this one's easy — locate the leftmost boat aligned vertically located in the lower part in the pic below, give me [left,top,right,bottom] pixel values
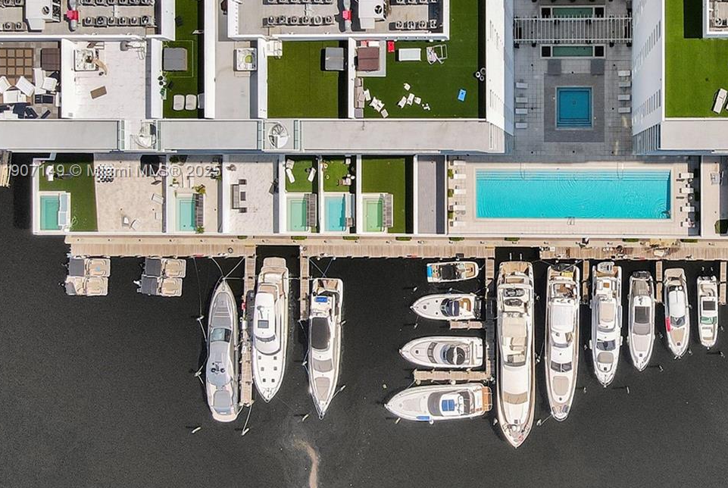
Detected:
[206,280,243,420]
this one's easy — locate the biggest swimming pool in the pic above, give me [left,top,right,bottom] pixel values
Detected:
[471,163,676,224]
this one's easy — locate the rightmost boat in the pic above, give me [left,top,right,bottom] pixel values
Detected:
[696,267,719,348]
